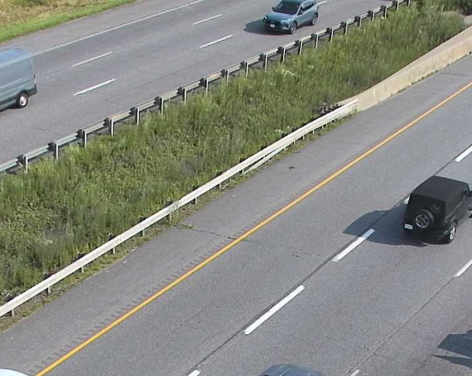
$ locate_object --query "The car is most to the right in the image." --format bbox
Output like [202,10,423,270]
[403,176,472,242]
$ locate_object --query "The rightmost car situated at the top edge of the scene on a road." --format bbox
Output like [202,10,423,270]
[262,0,323,33]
